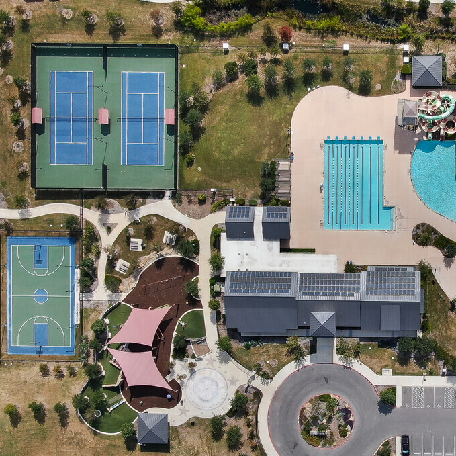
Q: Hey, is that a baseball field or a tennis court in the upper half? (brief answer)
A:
tennis court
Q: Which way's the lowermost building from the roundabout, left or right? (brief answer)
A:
on the left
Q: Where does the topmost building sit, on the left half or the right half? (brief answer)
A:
right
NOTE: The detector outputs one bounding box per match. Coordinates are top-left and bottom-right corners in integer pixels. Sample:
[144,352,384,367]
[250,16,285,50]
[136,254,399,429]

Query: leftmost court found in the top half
[36,47,105,188]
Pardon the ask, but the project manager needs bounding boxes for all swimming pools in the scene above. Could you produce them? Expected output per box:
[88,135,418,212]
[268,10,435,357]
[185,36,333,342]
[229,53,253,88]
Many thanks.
[321,136,395,231]
[410,140,456,223]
